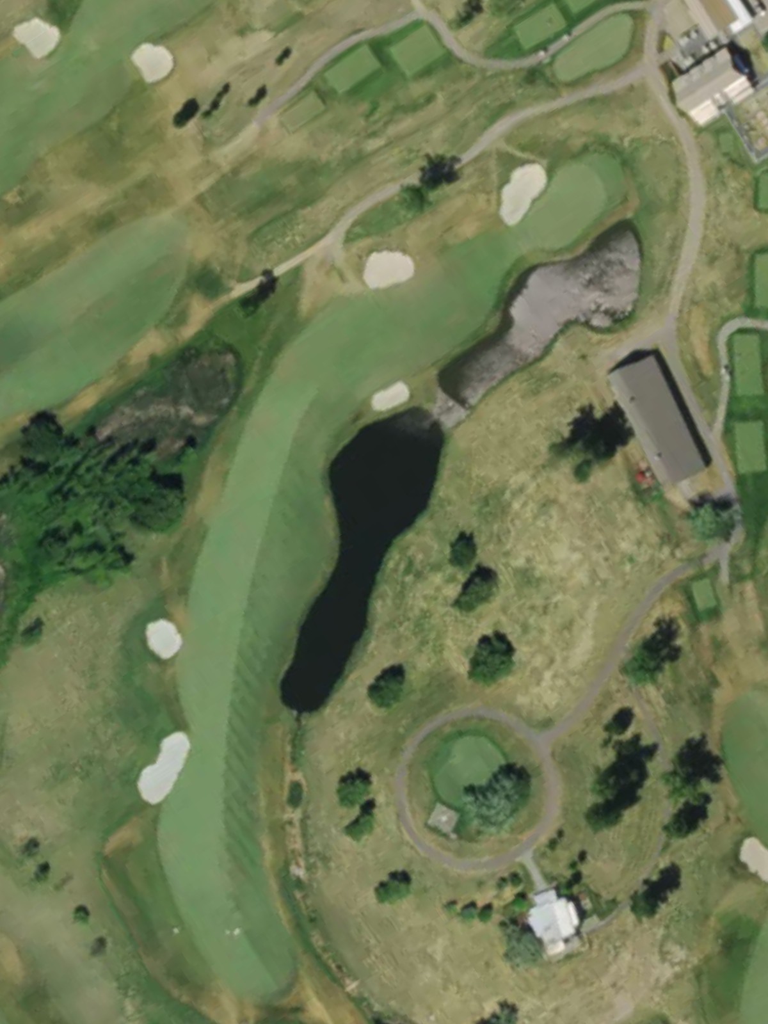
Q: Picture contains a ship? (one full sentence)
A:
No, no ship is visible in the view.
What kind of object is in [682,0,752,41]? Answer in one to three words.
building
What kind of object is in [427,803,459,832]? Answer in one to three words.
building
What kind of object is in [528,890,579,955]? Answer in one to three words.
house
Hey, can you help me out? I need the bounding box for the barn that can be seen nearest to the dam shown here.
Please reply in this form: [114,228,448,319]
[609,355,706,484]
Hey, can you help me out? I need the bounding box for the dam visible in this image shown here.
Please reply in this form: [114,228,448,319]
[433,385,471,429]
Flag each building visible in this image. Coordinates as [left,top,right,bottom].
[528,890,579,955]
[682,0,752,41]
[672,48,754,126]
[427,803,459,832]
[609,355,706,484]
